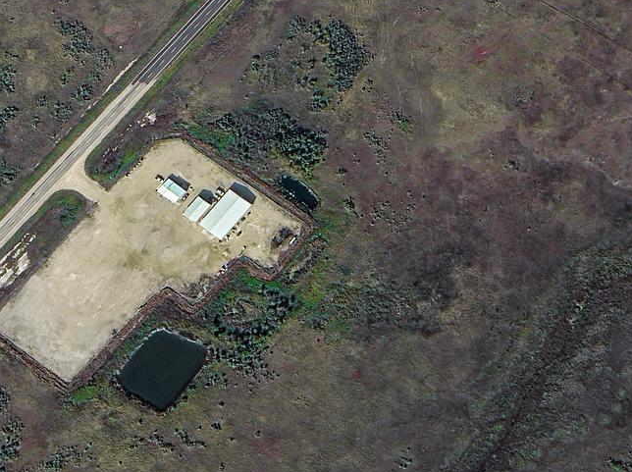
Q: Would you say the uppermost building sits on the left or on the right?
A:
left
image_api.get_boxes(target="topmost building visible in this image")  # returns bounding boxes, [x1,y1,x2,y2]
[158,176,186,204]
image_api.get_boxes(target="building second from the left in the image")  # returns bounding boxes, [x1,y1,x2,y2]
[184,195,211,223]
